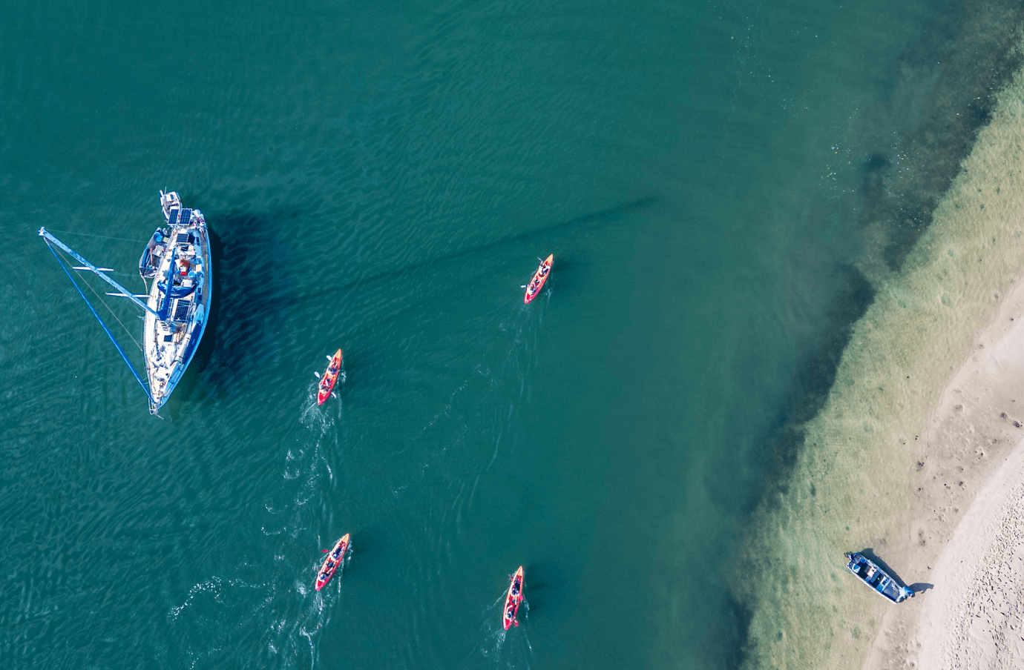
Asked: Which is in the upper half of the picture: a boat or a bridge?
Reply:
boat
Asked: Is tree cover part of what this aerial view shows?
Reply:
No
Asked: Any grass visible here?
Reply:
No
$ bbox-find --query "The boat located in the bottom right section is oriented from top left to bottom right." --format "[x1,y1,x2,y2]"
[841,550,906,603]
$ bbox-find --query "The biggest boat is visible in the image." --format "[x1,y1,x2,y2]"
[36,203,213,424]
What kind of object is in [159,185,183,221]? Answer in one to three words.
boat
